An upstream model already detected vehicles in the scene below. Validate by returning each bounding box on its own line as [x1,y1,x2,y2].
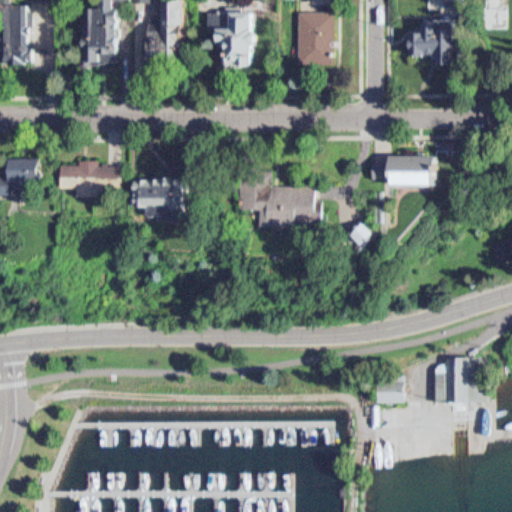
[122,61,129,76]
[377,5,384,26]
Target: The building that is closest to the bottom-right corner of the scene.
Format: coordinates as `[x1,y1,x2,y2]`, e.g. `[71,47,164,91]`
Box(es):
[454,357,468,410]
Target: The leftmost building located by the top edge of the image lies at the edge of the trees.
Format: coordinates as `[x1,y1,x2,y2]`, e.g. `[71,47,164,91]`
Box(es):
[2,3,32,65]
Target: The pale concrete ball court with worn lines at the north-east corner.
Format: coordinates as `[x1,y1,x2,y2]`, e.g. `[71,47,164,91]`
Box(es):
[485,0,509,30]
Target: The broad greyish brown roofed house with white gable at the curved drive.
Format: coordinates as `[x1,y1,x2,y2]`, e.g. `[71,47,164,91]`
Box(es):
[240,172,324,227]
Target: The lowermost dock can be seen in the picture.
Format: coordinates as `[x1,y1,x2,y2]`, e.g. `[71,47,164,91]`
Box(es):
[54,471,296,512]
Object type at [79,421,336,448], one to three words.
pier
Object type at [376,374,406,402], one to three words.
shed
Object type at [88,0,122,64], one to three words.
house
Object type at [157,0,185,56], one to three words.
house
